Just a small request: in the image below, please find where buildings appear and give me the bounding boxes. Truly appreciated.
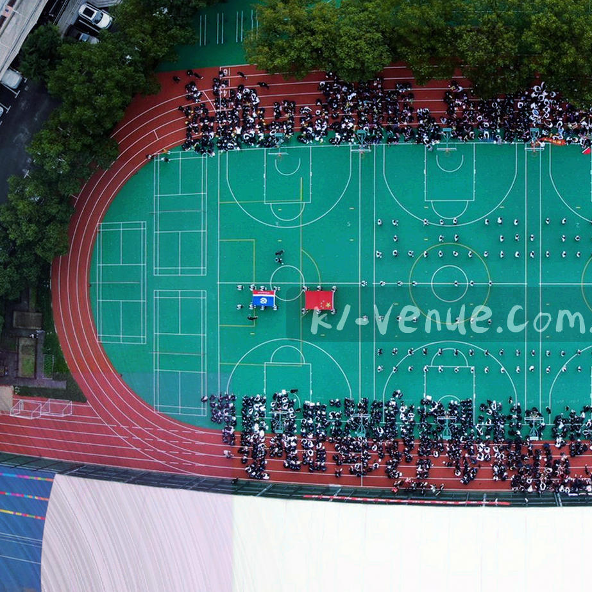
[0,0,56,77]
[0,451,592,592]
